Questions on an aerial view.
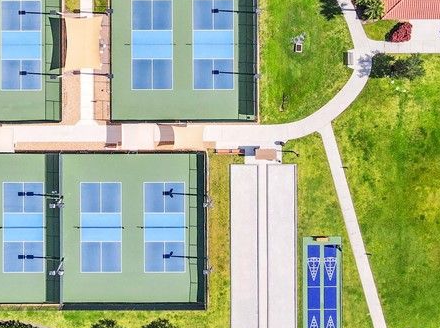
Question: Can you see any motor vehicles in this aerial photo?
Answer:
No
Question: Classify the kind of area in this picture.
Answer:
sports ground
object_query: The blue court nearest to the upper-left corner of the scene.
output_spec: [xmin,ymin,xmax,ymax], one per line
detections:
[0,0,46,91]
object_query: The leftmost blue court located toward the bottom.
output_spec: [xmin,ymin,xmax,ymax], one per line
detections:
[0,182,48,273]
